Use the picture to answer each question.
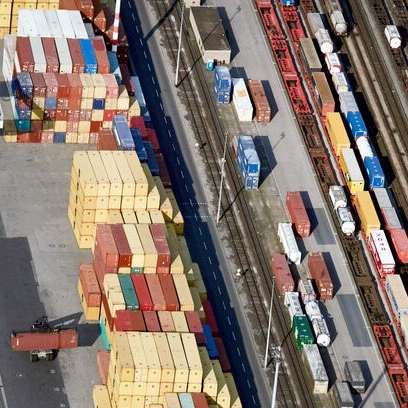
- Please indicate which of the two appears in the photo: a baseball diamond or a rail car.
rail car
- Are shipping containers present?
Yes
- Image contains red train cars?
Yes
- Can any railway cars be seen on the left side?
No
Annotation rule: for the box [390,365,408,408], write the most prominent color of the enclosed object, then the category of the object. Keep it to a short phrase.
red rail car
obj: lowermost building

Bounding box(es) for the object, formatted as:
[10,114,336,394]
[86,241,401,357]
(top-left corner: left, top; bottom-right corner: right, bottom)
[190,6,233,65]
